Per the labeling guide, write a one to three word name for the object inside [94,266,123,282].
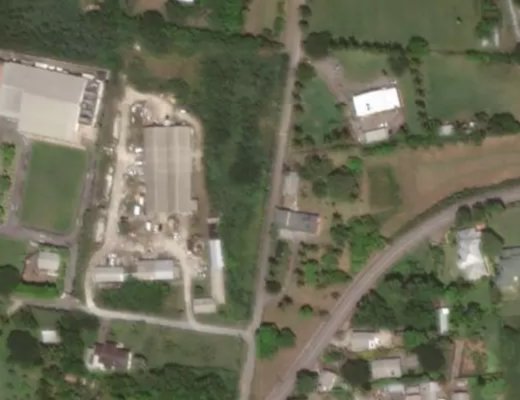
shed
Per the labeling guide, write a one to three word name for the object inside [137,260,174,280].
shed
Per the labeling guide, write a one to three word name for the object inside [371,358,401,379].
house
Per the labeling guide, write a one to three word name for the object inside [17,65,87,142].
building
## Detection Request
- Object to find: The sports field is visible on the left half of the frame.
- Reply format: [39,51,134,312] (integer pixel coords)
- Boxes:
[21,142,86,236]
